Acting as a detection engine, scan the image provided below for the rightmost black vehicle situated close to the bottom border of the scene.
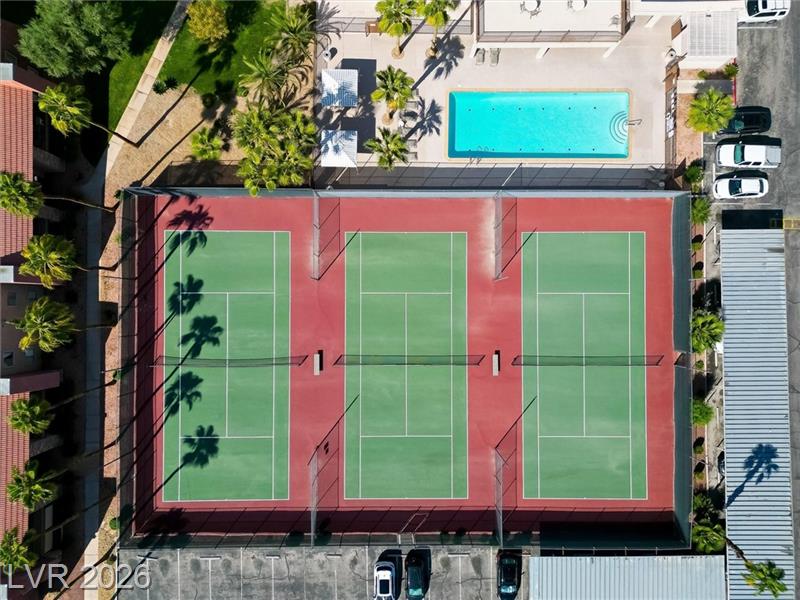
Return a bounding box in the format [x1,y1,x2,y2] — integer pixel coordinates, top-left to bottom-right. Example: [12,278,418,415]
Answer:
[496,550,523,600]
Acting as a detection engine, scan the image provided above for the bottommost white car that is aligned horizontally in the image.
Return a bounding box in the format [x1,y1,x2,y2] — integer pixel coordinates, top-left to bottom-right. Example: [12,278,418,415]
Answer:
[712,173,768,198]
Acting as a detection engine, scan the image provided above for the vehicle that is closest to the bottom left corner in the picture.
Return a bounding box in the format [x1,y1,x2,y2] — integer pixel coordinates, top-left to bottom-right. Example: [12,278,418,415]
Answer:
[373,559,398,600]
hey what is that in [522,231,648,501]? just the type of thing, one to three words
tennis court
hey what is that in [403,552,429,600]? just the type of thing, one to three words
car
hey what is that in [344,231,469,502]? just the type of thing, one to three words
tennis court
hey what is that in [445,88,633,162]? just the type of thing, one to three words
swimming pool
